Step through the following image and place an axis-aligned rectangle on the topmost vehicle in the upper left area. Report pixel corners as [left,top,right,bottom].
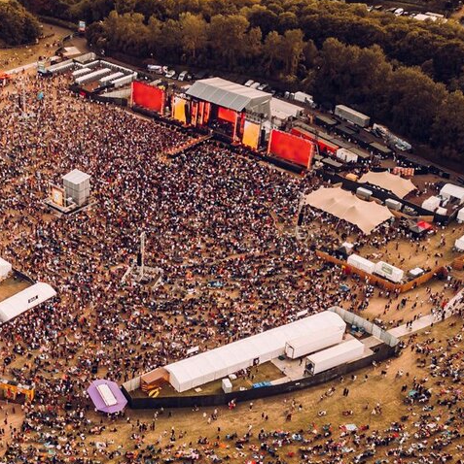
[76,16,91,35]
